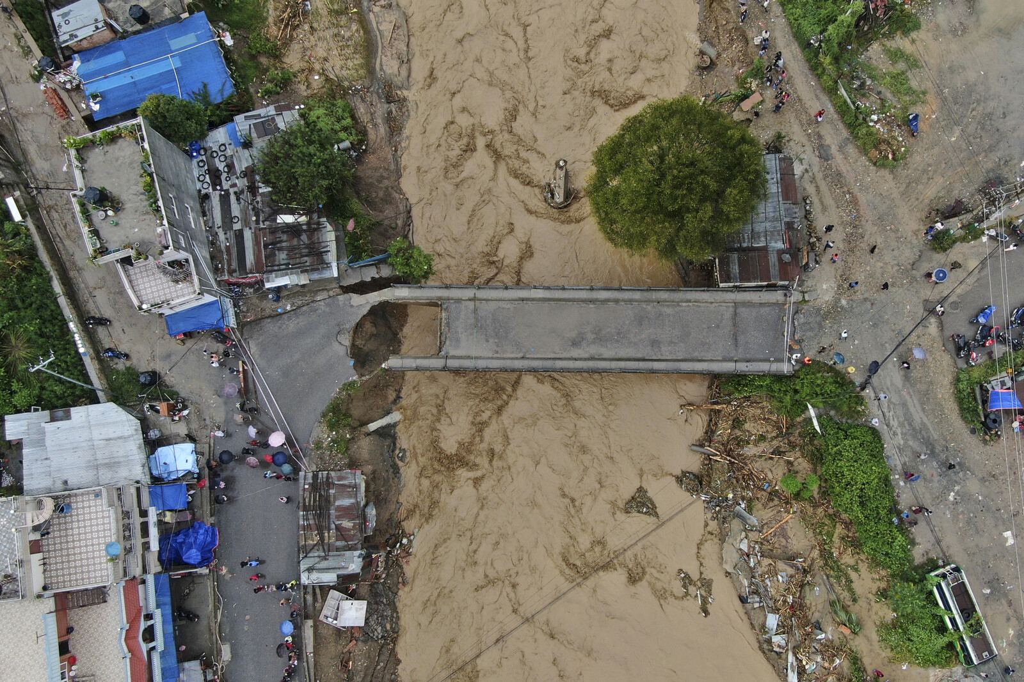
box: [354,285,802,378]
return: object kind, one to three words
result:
bridge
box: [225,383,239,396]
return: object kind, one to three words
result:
umbrella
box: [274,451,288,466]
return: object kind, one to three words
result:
umbrella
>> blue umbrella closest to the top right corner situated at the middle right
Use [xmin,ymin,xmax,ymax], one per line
[932,268,947,282]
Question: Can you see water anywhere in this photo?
Yes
